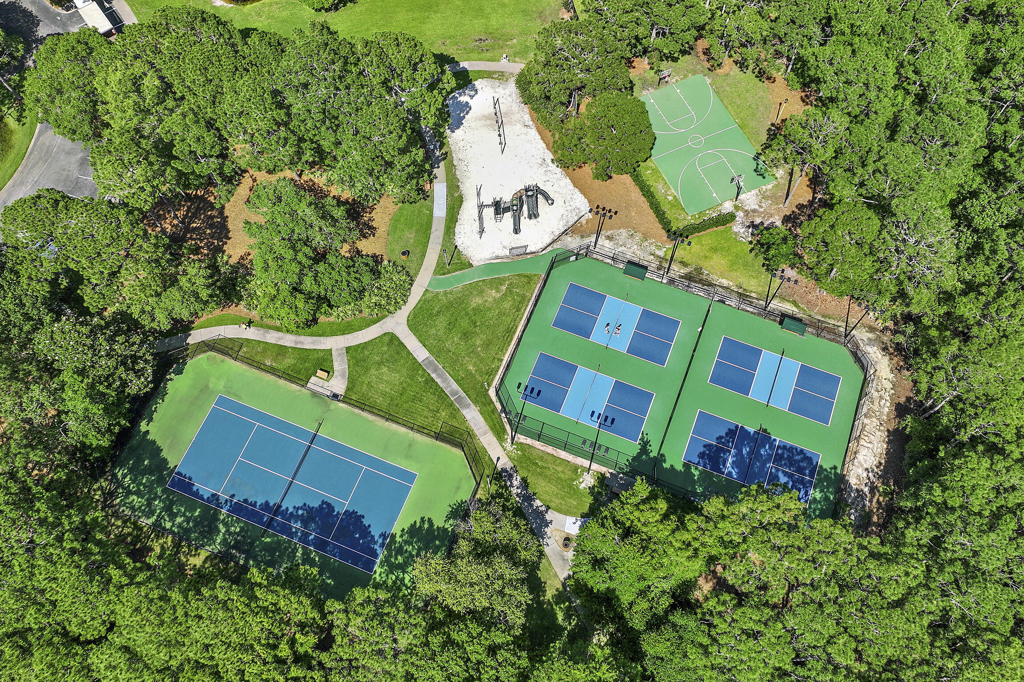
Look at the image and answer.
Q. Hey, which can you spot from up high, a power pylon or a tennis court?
tennis court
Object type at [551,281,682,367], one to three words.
sports court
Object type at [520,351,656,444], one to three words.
sports court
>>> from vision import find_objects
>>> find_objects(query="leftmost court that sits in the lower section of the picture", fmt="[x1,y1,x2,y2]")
[103,352,477,624]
